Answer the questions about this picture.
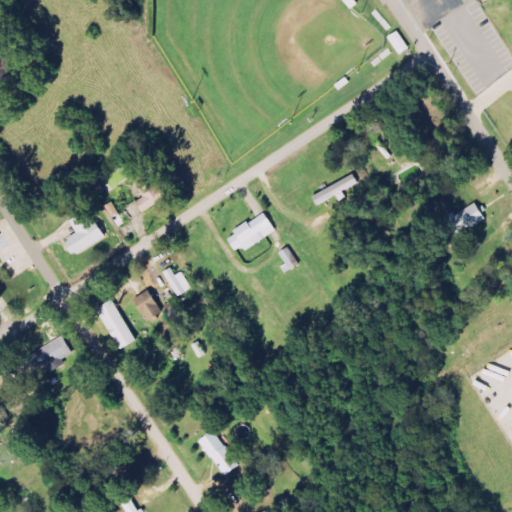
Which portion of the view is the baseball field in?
top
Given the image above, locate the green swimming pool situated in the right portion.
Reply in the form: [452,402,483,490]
[392,161,416,186]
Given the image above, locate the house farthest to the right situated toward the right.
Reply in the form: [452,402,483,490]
[452,202,486,230]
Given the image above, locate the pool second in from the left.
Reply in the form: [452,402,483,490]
[235,423,250,439]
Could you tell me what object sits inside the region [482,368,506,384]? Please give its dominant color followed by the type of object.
white vehicle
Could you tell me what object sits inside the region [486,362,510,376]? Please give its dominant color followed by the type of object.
white vehicle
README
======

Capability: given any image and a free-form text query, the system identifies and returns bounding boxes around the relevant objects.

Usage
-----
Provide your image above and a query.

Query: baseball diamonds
[154,0,382,162]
